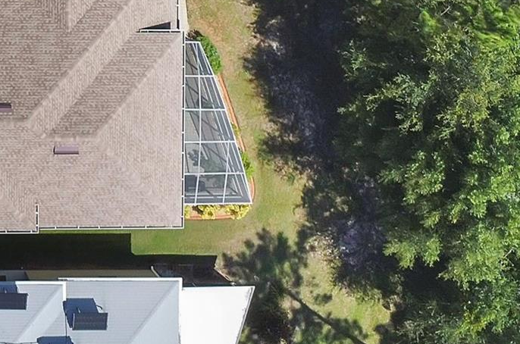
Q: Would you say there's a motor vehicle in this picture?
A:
No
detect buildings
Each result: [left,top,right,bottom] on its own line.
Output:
[0,0,186,237]
[0,266,253,344]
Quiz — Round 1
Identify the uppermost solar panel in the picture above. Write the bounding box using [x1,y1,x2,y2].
[0,282,27,311]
